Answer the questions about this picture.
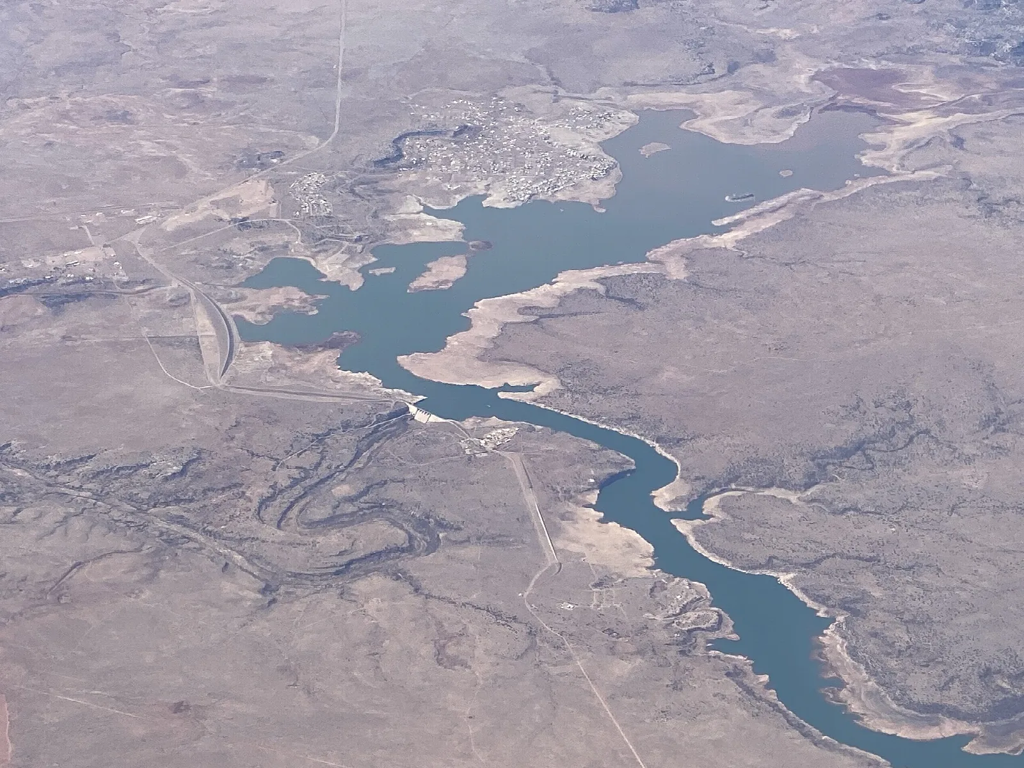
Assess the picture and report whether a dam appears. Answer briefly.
Yes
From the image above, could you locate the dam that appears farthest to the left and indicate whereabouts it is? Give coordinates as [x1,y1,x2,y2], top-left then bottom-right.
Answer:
[174,279,236,378]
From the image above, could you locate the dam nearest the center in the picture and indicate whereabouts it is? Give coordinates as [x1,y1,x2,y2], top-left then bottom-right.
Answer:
[403,400,452,425]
